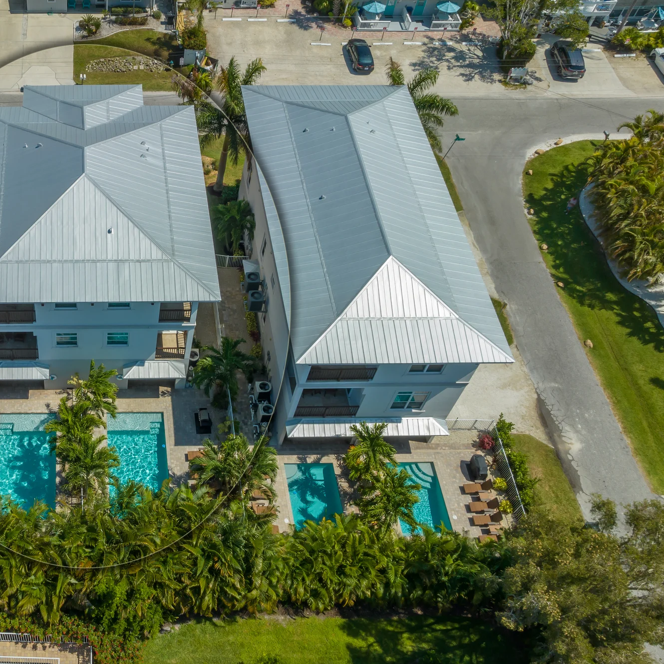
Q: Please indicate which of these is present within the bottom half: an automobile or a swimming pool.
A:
swimming pool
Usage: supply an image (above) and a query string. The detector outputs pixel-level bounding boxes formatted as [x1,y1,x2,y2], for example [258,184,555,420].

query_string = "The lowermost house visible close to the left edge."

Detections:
[0,83,223,389]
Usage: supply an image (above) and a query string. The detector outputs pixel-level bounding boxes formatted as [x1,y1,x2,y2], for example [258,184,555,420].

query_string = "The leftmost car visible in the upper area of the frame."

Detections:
[347,37,378,69]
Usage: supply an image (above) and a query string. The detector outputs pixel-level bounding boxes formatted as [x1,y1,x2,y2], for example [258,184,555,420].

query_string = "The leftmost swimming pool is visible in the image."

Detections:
[0,408,59,522]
